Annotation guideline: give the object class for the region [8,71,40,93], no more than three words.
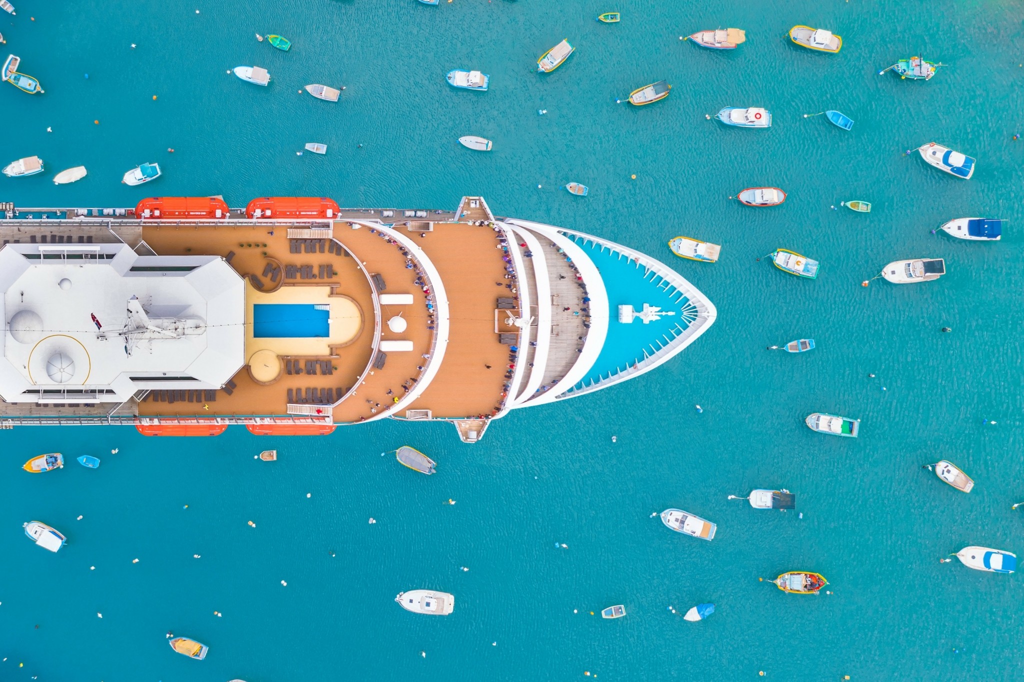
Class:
boat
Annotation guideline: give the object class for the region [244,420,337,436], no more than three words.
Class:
boat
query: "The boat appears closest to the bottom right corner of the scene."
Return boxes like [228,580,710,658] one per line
[950,544,1019,576]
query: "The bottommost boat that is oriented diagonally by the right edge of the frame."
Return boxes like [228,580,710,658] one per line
[930,462,978,494]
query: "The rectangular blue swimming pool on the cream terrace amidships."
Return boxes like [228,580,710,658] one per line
[253,304,333,338]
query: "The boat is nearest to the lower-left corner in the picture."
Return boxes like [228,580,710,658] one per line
[23,520,70,554]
